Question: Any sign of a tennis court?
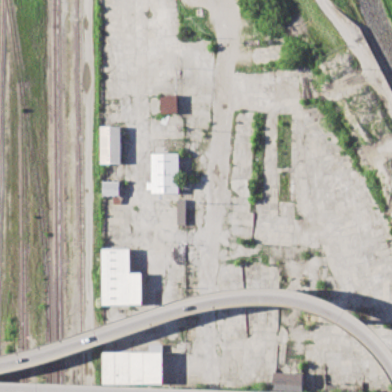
No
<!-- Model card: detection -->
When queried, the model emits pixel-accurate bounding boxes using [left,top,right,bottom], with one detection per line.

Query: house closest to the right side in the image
[273,372,302,392]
